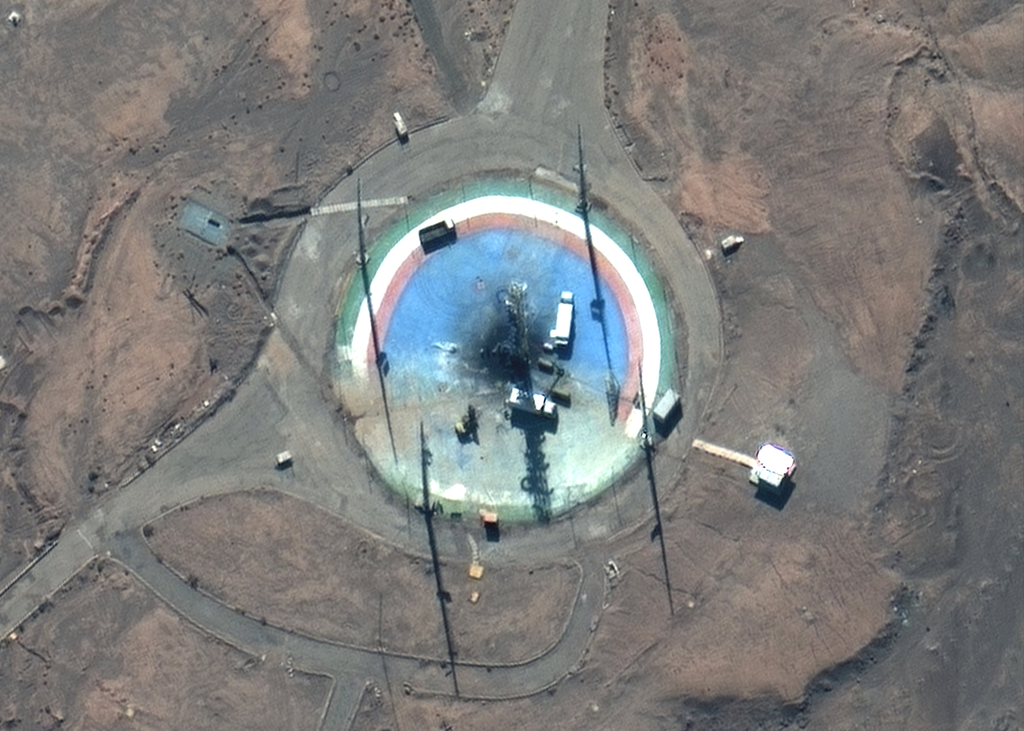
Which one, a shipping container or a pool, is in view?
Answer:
shipping container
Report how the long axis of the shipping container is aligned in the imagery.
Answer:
at an angle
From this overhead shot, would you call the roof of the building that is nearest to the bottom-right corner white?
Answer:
Yes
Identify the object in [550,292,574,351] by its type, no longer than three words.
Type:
truck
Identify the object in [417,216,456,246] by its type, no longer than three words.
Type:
truck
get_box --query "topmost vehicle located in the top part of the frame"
[392,114,408,140]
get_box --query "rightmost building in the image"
[747,442,798,491]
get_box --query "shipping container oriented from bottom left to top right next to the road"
[651,391,678,423]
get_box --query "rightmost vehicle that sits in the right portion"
[721,237,744,254]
